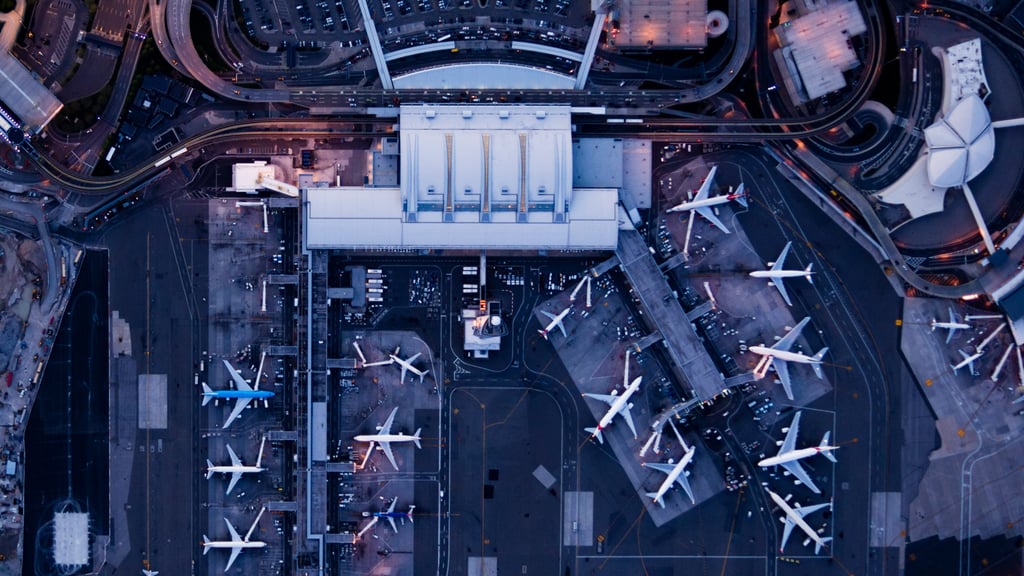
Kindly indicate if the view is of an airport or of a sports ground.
airport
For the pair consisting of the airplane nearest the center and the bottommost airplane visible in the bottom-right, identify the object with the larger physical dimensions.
the bottommost airplane visible in the bottom-right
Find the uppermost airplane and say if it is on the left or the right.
right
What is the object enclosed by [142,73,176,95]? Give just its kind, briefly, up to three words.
building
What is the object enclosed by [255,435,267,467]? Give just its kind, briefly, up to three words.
jet bridge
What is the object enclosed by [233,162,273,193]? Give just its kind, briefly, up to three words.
building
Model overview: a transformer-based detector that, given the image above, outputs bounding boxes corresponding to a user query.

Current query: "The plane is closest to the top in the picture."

[672,164,747,234]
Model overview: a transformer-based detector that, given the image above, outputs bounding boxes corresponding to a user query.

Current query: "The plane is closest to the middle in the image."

[537,308,570,340]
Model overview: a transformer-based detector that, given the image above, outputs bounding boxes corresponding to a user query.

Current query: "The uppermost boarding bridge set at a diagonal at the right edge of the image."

[973,323,1004,352]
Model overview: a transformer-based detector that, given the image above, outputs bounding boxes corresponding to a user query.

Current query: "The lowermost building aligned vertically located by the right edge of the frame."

[986,265,1024,352]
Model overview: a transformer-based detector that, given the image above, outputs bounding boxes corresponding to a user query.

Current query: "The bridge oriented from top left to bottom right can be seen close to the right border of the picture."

[798,146,1024,298]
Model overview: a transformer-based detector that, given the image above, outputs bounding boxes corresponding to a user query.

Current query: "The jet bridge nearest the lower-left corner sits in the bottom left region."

[244,506,267,542]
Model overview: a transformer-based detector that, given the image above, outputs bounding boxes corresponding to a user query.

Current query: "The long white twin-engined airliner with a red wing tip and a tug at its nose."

[770,491,835,556]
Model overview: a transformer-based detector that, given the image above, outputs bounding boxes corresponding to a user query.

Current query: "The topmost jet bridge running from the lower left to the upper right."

[569,274,590,302]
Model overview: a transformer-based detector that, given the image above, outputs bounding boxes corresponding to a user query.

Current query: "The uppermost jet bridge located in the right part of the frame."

[684,210,696,251]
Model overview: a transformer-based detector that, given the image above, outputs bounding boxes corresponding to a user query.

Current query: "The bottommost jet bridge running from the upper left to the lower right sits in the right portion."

[668,417,691,450]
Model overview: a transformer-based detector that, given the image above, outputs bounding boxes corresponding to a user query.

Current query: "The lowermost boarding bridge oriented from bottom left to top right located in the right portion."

[639,432,657,457]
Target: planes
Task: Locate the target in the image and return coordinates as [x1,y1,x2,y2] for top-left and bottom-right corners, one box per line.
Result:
[672,164,747,234]
[200,360,274,430]
[749,315,826,402]
[537,308,570,340]
[952,346,983,377]
[582,376,642,443]
[933,307,969,343]
[749,240,816,306]
[354,406,421,471]
[200,518,267,573]
[1013,390,1024,402]
[640,447,695,507]
[373,496,413,534]
[205,444,264,495]
[390,354,428,386]
[770,491,835,556]
[758,411,844,497]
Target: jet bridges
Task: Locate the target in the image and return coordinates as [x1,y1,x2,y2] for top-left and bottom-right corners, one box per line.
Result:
[964,315,1000,320]
[586,278,591,307]
[261,280,268,312]
[623,347,630,389]
[654,432,662,454]
[989,343,1014,381]
[362,358,394,368]
[360,441,375,470]
[254,350,267,391]
[684,210,696,251]
[639,432,657,457]
[1014,348,1024,390]
[668,417,691,450]
[569,274,590,302]
[262,205,270,232]
[757,355,769,376]
[244,506,267,542]
[759,356,773,378]
[352,340,367,364]
[255,435,267,467]
[973,323,1004,352]
[704,281,716,302]
[237,202,268,207]
[357,516,379,539]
